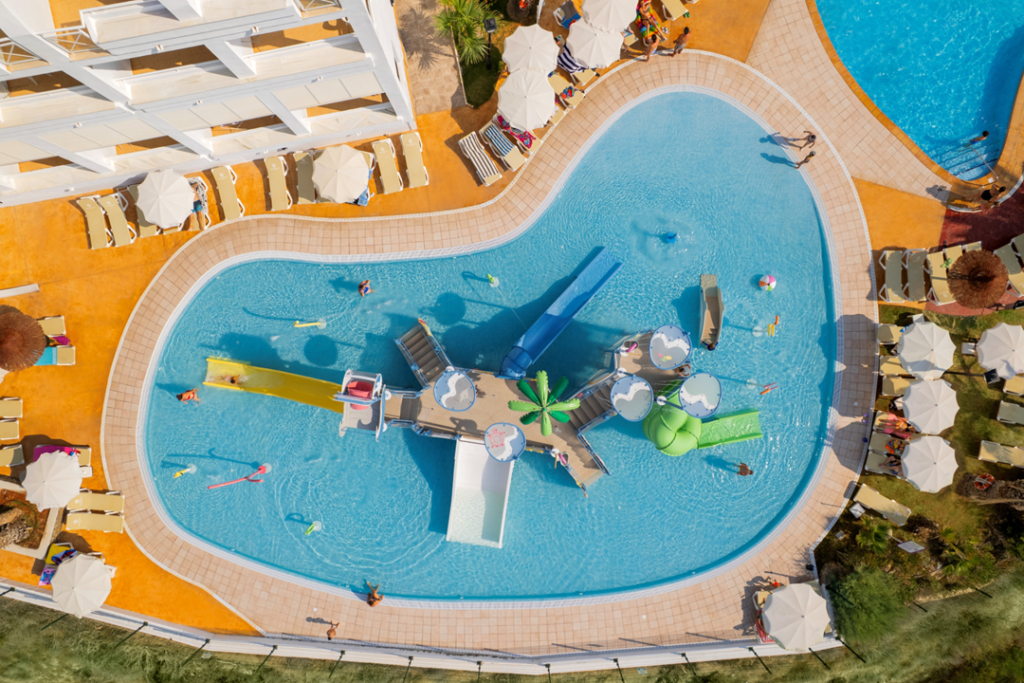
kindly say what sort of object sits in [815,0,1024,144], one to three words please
swimming pool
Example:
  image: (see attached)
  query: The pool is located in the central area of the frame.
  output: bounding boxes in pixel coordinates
[144,92,837,601]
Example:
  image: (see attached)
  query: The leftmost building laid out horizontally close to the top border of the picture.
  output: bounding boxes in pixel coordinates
[0,0,415,205]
